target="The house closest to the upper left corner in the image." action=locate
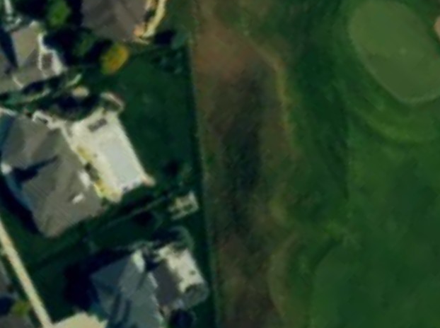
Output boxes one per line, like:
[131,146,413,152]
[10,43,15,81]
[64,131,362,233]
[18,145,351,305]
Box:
[0,22,60,95]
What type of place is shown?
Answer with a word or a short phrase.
golf course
